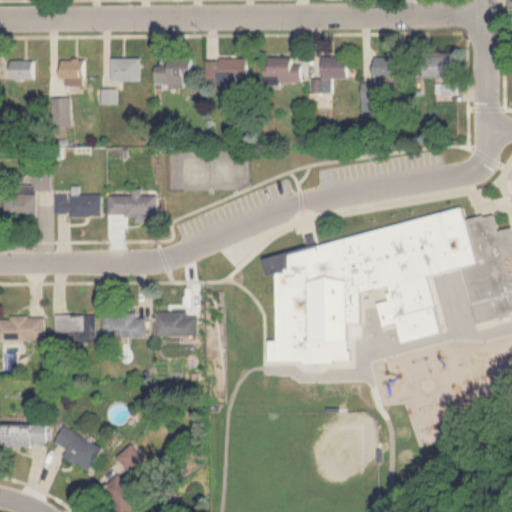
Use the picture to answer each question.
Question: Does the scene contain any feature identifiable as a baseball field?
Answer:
Yes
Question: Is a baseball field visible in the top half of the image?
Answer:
No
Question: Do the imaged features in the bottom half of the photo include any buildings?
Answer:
Yes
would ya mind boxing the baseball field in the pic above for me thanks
[314,412,380,483]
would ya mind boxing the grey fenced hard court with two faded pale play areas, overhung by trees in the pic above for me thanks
[170,150,250,191]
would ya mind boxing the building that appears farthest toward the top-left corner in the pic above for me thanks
[6,60,36,82]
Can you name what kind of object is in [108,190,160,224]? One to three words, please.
house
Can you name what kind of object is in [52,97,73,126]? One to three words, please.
building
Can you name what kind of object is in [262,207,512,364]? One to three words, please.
building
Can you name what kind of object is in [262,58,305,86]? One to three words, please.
house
